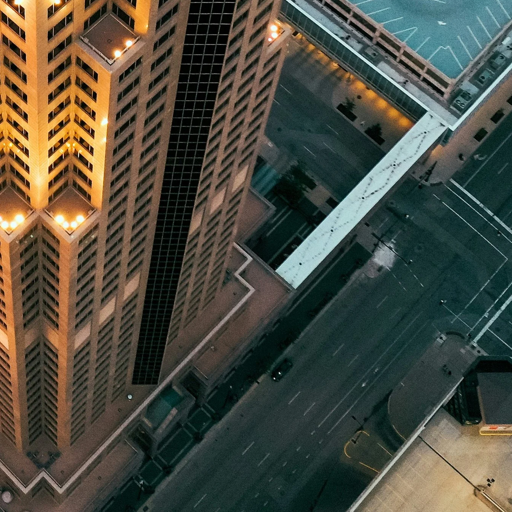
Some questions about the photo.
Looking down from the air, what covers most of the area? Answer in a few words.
buildings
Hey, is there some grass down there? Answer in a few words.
No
